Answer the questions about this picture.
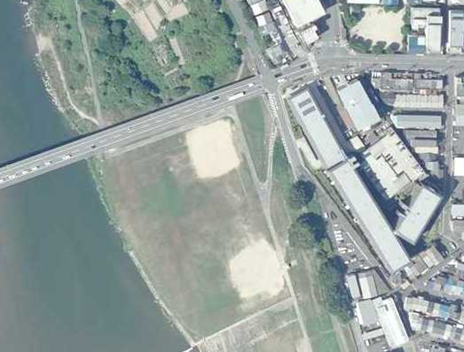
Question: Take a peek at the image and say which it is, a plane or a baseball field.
baseball field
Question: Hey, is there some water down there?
Yes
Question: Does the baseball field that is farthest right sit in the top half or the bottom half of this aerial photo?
bottom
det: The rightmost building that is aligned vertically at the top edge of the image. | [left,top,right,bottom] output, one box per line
[446,10,464,49]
